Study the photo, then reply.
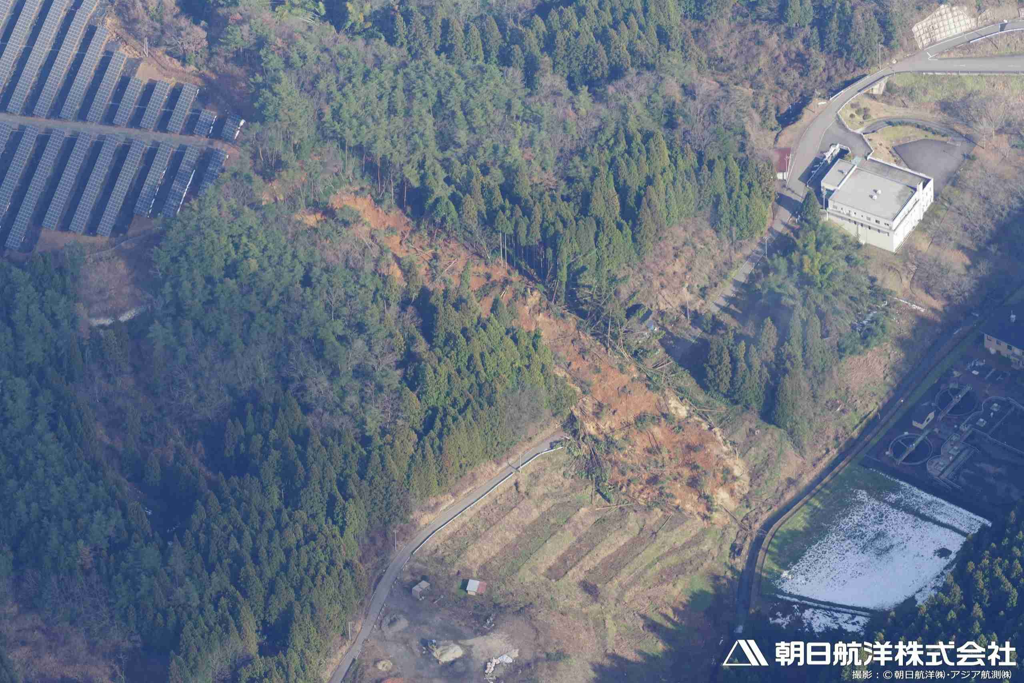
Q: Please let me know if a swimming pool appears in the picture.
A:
No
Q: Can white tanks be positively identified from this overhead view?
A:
No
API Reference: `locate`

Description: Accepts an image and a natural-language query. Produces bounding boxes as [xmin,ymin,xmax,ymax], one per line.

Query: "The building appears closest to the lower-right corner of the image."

[912,406,935,431]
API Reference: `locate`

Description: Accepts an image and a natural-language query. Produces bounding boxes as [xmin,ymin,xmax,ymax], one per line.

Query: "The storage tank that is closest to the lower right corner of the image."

[889,429,933,469]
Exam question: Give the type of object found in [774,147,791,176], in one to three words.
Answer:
shed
